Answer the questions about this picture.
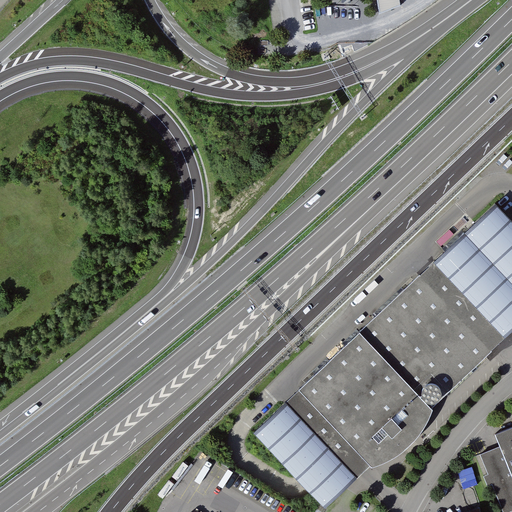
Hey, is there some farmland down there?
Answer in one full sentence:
No, the scene doesn't show any farmland.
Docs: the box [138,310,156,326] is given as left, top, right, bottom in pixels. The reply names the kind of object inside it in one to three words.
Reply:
vehicle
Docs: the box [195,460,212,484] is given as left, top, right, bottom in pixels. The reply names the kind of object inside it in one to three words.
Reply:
vehicle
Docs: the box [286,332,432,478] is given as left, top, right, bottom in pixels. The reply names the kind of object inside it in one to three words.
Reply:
building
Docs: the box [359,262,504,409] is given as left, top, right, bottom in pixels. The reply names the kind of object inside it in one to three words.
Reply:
building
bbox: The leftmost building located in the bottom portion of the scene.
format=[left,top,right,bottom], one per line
[256,402,358,508]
